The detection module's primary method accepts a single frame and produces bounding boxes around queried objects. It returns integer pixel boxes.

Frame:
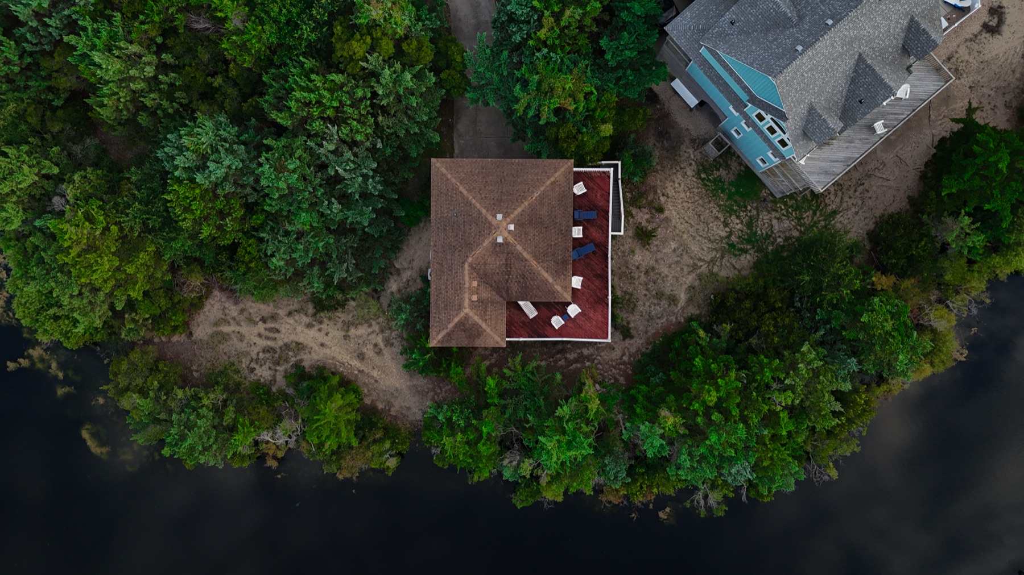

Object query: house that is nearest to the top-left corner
[430,158,573,347]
